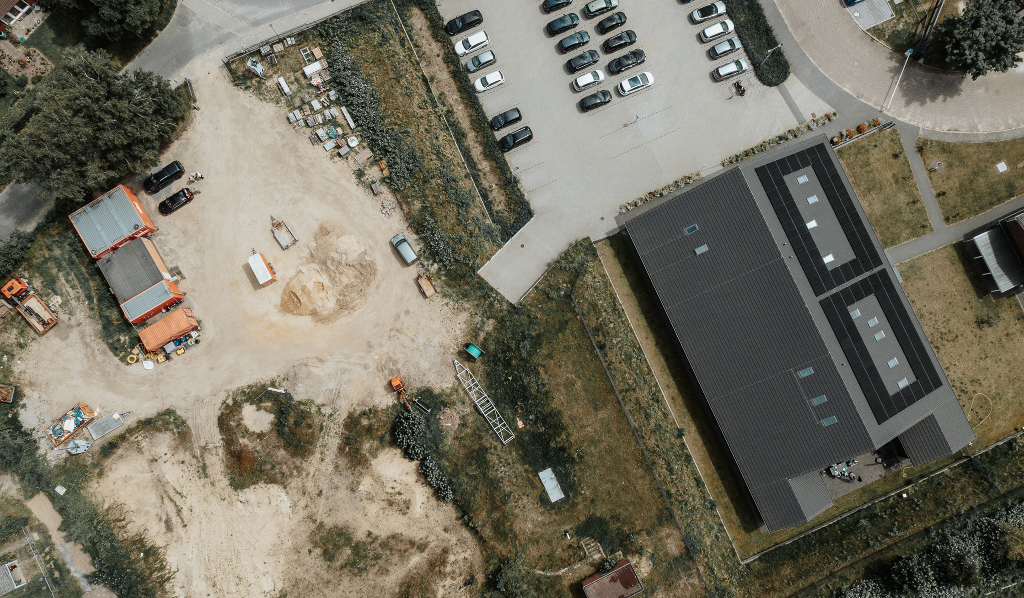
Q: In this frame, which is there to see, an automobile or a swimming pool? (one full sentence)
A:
The one in the frame is an automobile.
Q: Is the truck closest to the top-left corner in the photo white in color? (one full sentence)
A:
No, the truck closest to the top-left corner is actually black.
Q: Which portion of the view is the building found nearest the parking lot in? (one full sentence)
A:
The building found nearest the parking lot sits in the right section of the image.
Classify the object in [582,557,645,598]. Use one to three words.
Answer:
shed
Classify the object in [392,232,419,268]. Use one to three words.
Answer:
vehicle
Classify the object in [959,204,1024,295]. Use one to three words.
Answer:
building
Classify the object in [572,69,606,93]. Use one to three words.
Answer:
car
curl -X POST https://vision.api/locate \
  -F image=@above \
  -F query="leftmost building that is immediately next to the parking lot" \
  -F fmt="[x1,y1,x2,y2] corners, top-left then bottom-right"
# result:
[625,133,977,533]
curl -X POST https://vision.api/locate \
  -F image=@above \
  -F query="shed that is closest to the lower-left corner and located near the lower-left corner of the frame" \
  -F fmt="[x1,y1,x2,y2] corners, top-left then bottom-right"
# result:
[0,554,40,596]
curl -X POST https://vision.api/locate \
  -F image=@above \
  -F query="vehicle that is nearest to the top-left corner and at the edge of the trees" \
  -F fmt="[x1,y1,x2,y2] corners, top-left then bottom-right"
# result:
[138,159,184,192]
